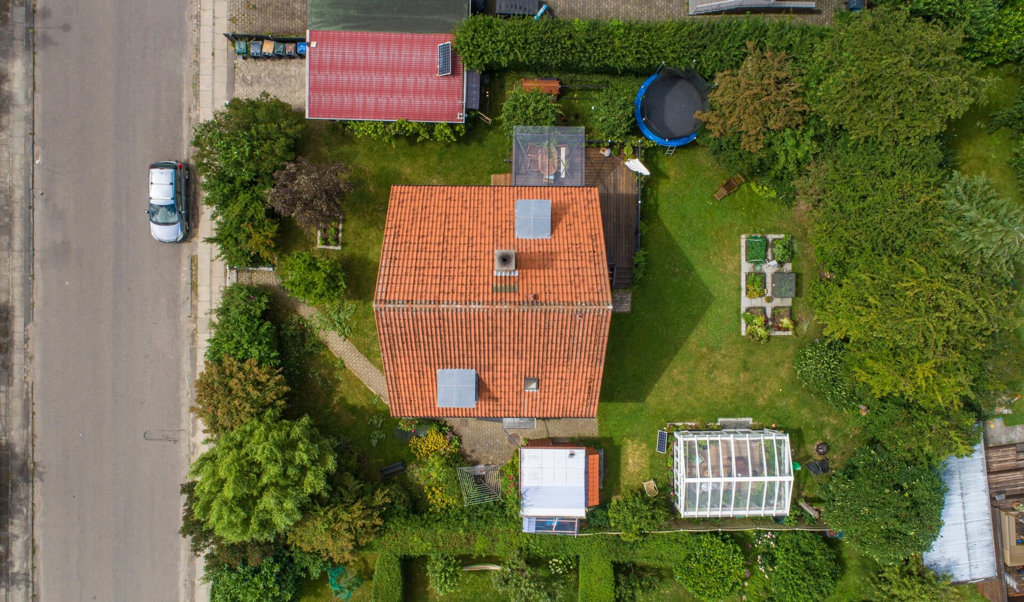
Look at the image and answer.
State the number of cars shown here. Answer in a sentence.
Only 1 car is visible.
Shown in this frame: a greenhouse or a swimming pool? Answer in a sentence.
The one in the frame is a greenhouse.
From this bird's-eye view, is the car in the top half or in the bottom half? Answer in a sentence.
It is in the top half that the car appears.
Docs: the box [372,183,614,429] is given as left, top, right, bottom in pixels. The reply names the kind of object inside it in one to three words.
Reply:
house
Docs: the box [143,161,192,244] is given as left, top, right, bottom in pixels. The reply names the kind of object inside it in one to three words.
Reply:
car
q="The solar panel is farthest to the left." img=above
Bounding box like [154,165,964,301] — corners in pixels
[438,42,452,76]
